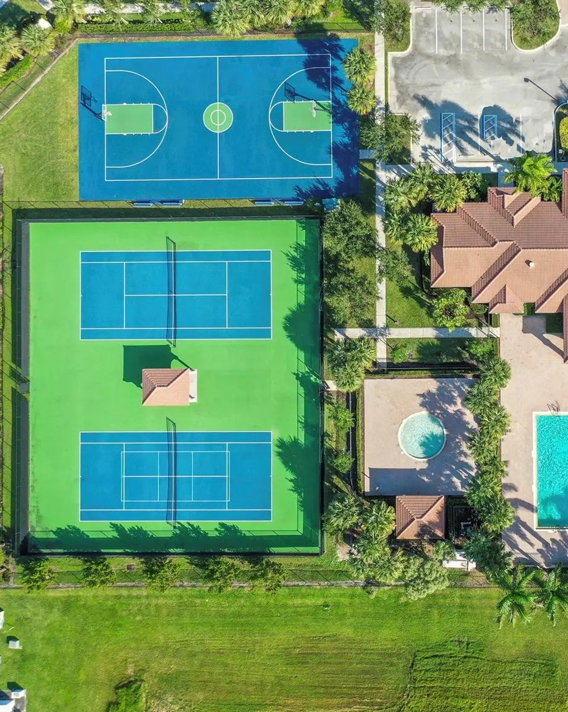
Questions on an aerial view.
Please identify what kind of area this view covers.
sports ground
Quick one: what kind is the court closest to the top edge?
basketball court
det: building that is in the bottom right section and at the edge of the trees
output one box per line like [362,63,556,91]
[394,498,446,542]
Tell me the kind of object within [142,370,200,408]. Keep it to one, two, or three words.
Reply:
gazebo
